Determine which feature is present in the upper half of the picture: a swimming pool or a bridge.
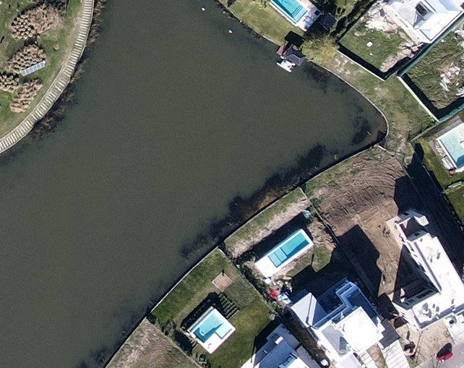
swimming pool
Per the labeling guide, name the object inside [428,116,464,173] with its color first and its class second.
white swimming pool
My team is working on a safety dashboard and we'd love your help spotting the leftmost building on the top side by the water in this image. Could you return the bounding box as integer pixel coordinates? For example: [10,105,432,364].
[277,45,307,67]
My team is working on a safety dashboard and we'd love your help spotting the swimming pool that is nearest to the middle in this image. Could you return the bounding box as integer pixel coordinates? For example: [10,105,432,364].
[254,229,313,278]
